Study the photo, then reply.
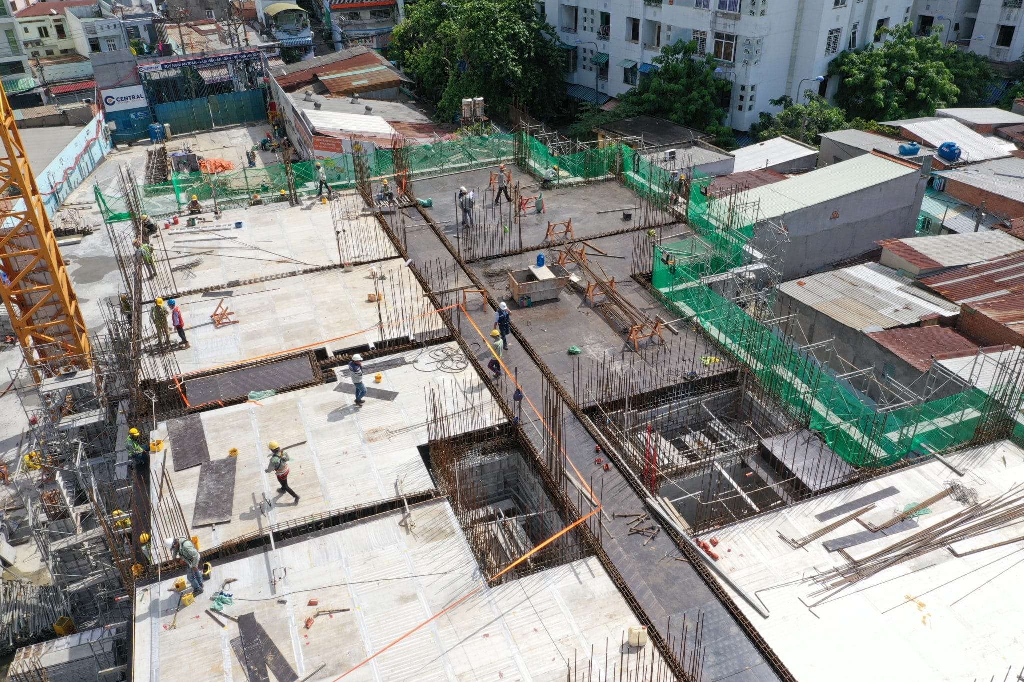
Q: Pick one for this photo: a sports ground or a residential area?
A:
residential area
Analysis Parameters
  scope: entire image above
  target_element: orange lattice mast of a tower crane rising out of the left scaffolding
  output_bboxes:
[0,90,110,447]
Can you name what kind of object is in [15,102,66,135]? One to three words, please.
house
